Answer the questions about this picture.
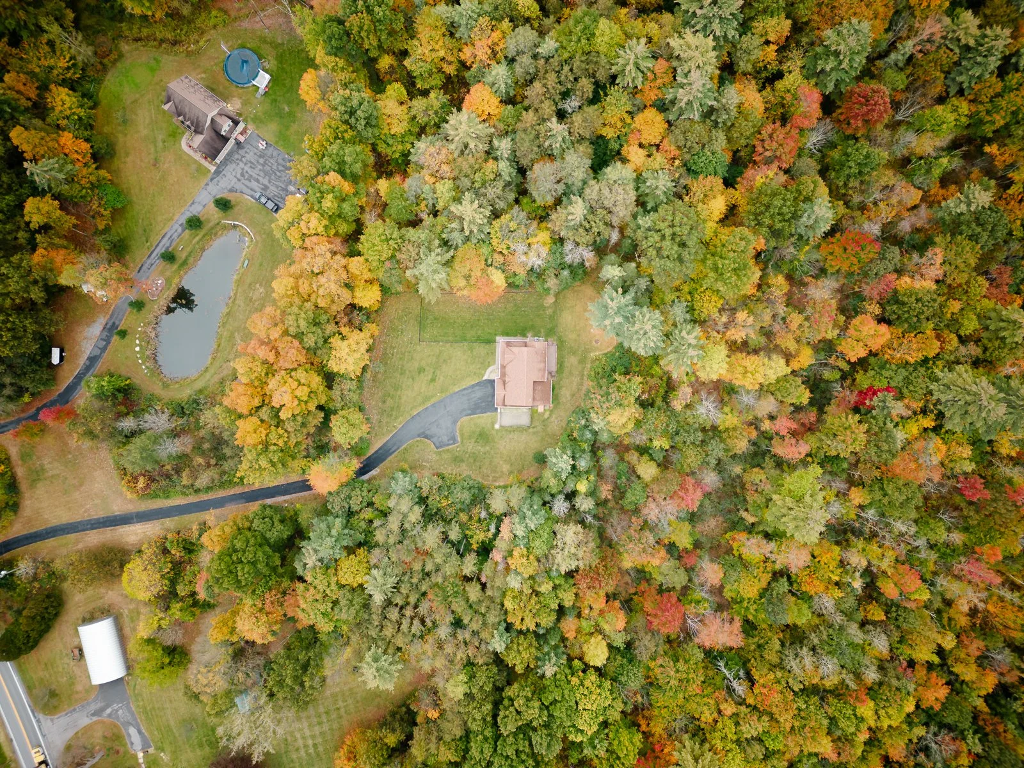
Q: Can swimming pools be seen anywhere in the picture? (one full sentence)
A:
Yes, looking at the shot, I can spot a swimming pool.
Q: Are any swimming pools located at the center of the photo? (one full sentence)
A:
No, at the center of the photo there is no swimming pool.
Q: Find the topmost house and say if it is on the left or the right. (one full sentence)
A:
The topmost house is on the left side of the image.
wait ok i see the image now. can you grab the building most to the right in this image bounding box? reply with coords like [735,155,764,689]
[495,339,553,407]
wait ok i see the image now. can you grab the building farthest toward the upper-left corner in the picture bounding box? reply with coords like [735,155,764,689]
[162,74,249,164]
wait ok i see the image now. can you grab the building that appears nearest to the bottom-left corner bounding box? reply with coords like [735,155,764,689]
[75,616,128,687]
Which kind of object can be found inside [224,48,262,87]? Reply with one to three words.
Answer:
swimming pool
